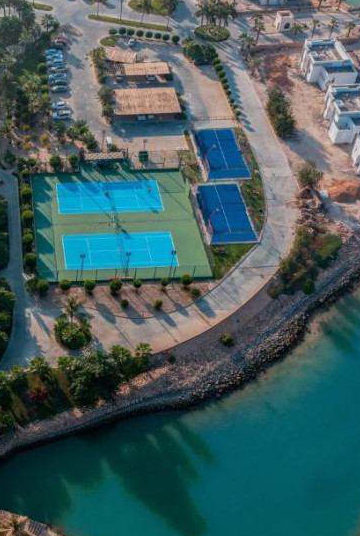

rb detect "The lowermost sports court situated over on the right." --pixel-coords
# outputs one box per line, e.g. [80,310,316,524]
[194,174,261,245]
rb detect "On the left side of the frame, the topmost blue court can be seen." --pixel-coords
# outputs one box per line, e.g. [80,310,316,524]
[56,179,164,214]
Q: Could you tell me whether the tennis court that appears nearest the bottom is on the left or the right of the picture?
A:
left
